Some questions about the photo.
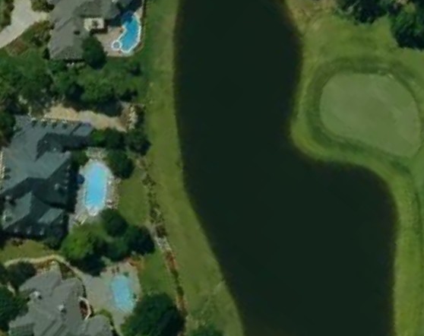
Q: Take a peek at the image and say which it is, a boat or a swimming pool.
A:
swimming pool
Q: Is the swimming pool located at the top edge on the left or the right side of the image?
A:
left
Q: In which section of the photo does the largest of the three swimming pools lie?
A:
left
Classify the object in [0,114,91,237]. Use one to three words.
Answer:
house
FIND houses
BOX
[0,114,91,237]
[45,0,141,59]
[6,258,114,336]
